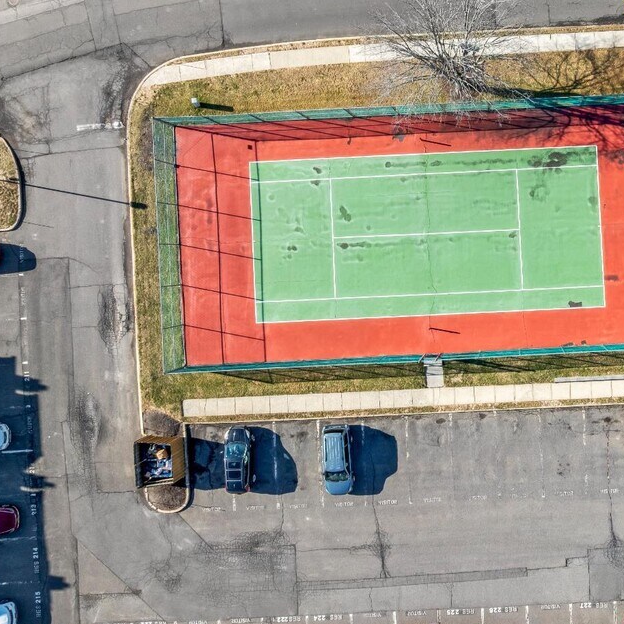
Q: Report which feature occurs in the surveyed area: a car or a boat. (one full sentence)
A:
The image shows a car.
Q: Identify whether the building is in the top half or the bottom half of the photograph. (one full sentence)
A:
The building is in the bottom half of the image.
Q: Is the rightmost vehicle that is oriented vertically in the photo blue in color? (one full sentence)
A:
Yes, blue is the color of the rightmost vehicle that is oriented vertically.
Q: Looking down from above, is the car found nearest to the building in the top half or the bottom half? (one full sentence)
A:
The car found nearest to the building sits in the bottom half of the picture.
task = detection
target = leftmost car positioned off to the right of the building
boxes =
[219,424,255,495]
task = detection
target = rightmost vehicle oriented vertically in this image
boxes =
[319,423,354,495]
